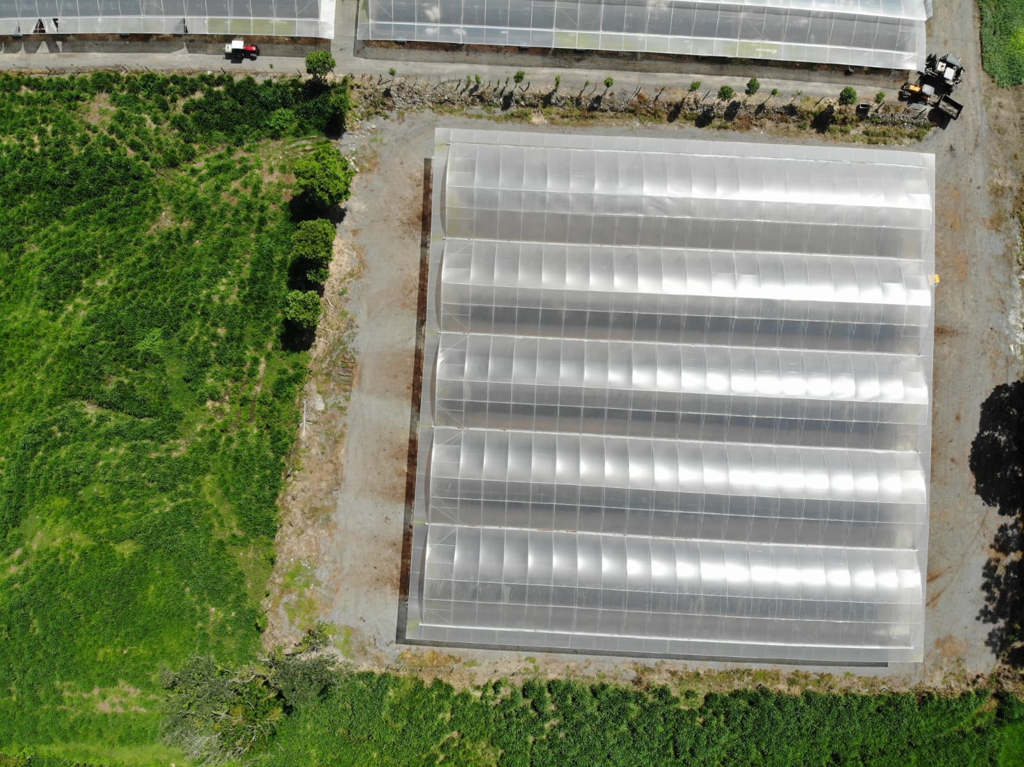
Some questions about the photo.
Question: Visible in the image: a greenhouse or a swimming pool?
greenhouse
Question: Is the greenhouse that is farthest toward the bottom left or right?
right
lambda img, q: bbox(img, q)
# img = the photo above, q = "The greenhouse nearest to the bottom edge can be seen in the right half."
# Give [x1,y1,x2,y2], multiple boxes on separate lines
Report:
[406,128,935,663]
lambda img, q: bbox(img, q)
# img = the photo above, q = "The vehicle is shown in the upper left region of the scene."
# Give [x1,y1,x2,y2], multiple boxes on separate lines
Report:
[227,40,263,59]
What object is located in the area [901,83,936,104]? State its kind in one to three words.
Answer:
work vehicle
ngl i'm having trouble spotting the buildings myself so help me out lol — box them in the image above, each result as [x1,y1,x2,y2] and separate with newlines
[359,0,925,71]
[406,128,935,663]
[0,0,339,38]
